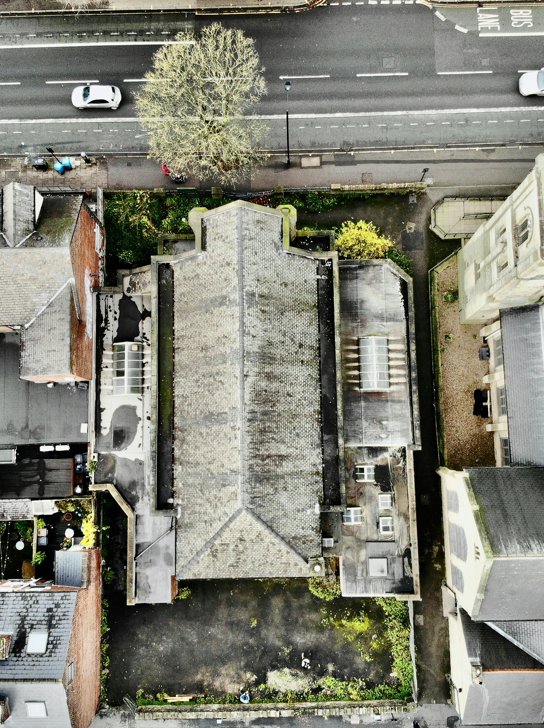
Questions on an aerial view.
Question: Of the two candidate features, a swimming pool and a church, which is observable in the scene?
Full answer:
There is a church in the scene.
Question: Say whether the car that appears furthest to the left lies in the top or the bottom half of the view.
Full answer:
It is in the top half that the car that appears furthest to the left appears.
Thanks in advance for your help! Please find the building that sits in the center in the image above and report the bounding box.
[89,201,422,604]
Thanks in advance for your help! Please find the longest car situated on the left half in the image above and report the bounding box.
[70,83,123,112]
